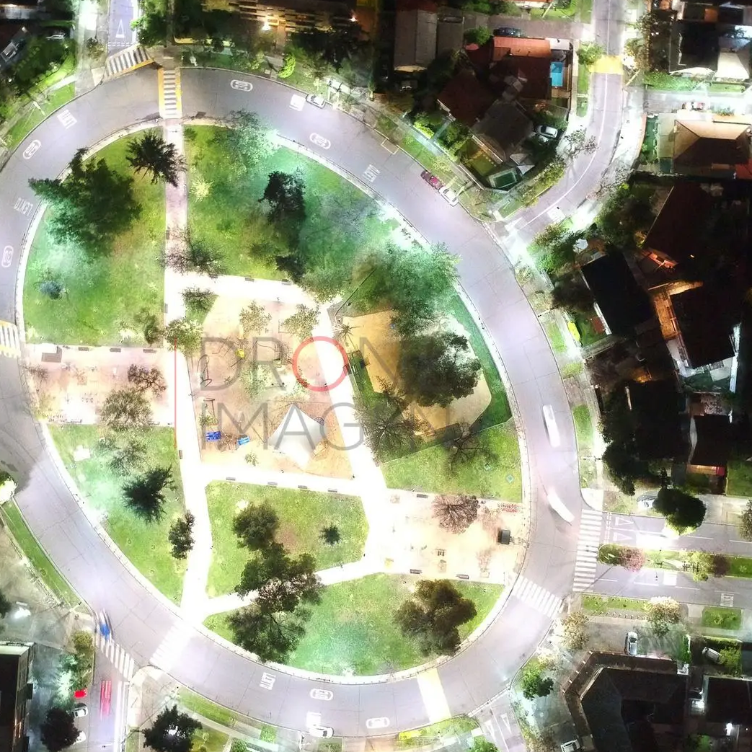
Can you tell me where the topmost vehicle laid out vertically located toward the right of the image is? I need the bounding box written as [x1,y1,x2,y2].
[544,411,561,445]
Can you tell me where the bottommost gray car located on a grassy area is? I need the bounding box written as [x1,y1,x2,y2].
[700,645,723,662]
